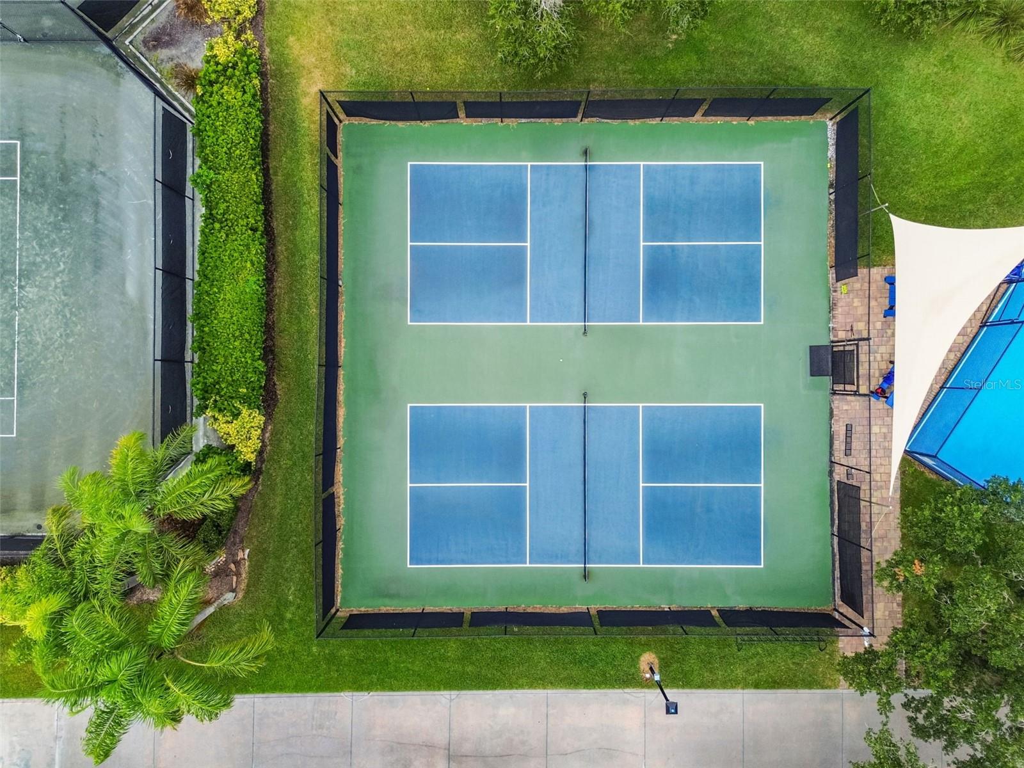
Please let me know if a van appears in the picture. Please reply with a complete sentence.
No, I can't see a single van in this photo.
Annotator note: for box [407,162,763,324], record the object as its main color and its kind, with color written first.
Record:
blue sports court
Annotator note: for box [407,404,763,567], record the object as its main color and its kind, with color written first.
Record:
blue sports court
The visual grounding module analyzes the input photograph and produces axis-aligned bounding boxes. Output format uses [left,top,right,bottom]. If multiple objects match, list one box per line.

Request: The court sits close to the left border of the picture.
[0,0,193,539]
